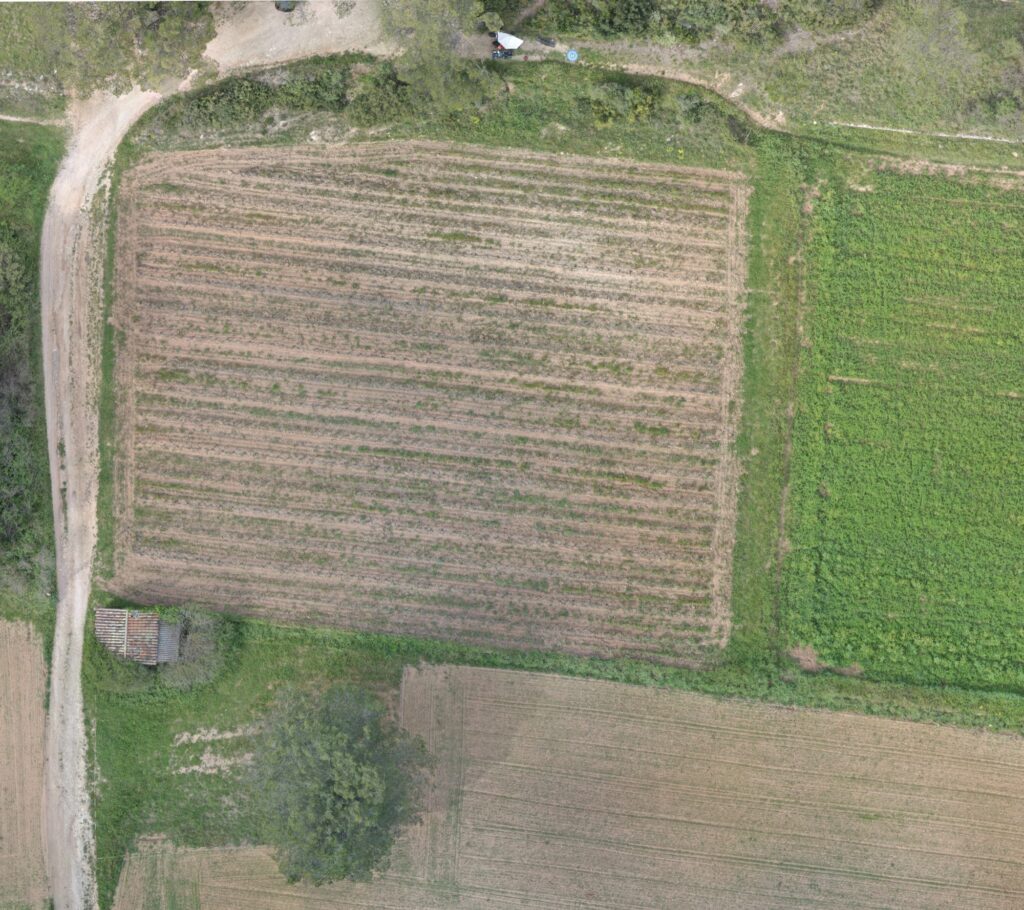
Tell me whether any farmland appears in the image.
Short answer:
Yes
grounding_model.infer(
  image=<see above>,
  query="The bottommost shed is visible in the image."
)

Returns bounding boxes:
[94,606,184,666]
